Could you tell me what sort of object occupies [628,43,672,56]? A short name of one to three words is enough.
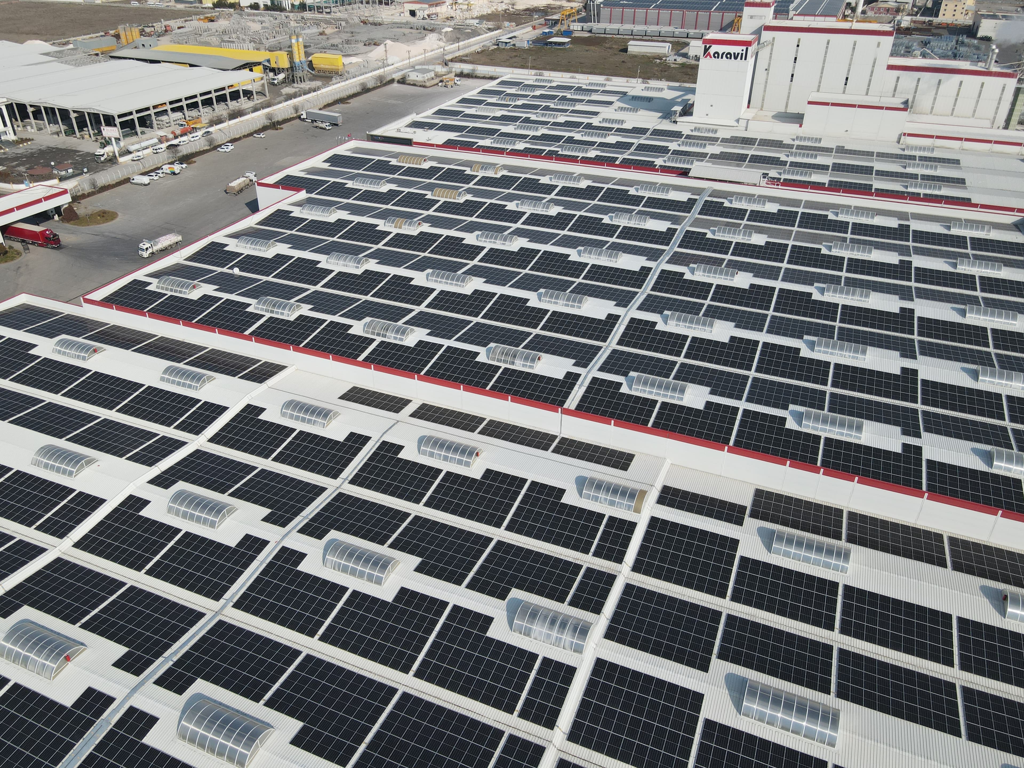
shed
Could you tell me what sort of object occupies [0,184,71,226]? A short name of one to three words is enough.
building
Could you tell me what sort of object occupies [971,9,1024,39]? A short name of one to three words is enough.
building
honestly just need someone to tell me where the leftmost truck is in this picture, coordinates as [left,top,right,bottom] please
[0,221,61,248]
